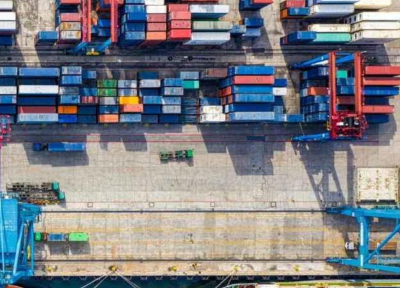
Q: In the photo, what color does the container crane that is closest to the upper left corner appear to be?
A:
red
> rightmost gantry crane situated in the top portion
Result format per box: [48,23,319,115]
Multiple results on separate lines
[286,50,368,145]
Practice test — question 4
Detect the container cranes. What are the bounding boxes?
[286,50,368,145]
[0,173,40,288]
[62,0,119,56]
[325,207,400,278]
